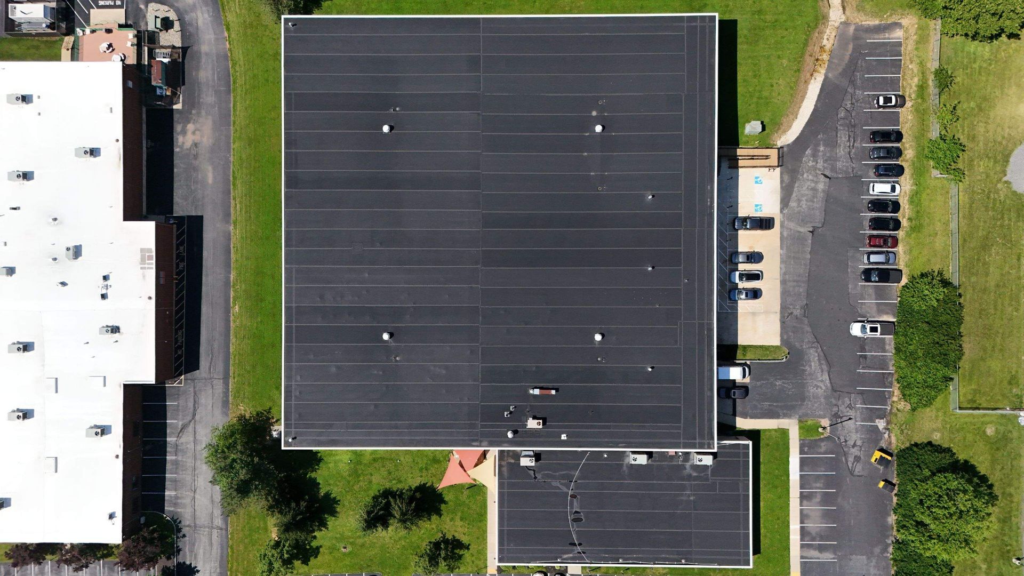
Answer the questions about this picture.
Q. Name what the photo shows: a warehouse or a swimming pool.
warehouse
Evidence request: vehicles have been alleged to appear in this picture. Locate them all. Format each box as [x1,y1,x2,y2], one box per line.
[872,162,905,178]
[868,129,903,144]
[715,364,750,381]
[717,385,749,400]
[862,250,896,266]
[728,287,764,302]
[729,268,764,284]
[868,181,901,196]
[873,93,905,109]
[730,250,764,265]
[848,320,897,337]
[552,570,564,576]
[732,214,776,231]
[866,198,900,213]
[868,146,902,161]
[859,267,905,284]
[867,216,901,231]
[865,234,899,249]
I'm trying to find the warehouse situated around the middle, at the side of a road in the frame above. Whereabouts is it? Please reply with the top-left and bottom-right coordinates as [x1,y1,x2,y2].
[282,13,717,450]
